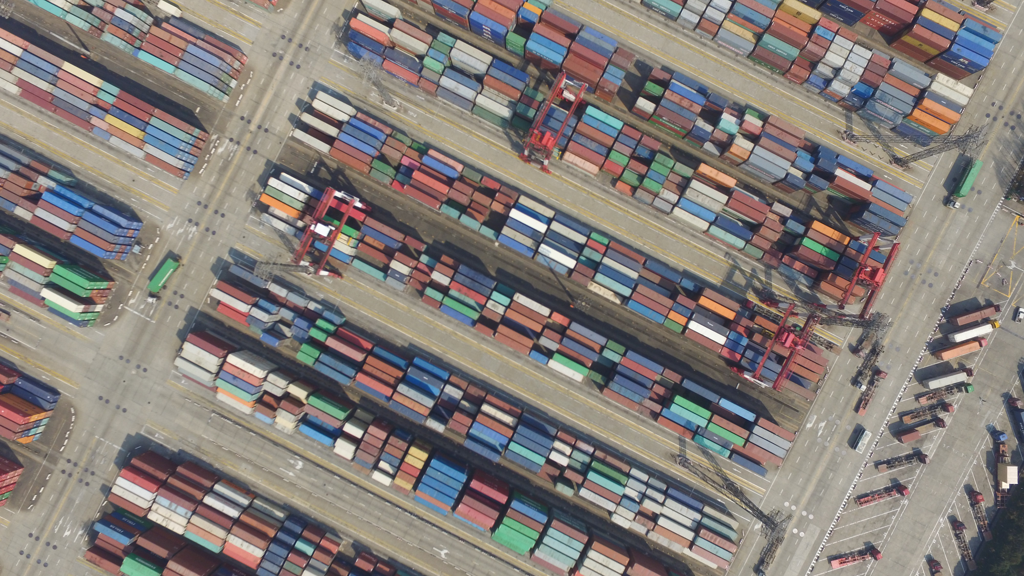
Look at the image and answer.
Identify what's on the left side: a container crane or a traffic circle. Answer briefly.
container crane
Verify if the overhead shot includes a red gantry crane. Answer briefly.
Yes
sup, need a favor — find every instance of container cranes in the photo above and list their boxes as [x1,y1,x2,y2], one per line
[727,300,817,390]
[516,72,585,172]
[289,185,375,277]
[806,233,904,321]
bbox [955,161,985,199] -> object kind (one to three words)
shipping container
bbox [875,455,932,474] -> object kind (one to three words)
vehicle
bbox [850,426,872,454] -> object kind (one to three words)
bus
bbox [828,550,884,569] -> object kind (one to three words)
vehicle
